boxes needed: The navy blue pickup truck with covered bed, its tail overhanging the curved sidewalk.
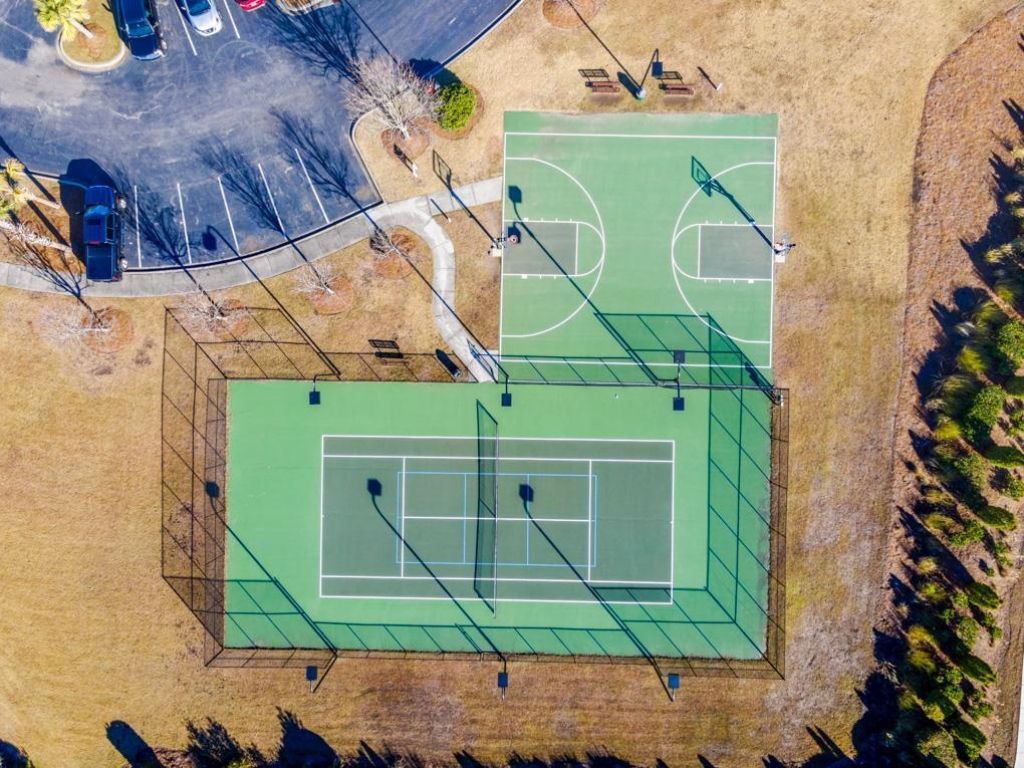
[81,186,128,282]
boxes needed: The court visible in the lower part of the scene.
[225,380,771,660]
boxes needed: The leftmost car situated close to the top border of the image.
[119,0,166,62]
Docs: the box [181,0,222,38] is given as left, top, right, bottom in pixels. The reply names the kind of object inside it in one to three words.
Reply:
car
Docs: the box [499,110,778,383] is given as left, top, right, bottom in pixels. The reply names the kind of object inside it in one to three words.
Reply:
basketball court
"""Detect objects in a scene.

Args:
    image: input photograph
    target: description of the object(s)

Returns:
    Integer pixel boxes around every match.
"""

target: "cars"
[235,0,266,14]
[119,0,166,62]
[181,0,222,38]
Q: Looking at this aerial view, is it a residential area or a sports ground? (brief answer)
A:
sports ground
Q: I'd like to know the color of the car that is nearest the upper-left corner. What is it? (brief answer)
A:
blue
